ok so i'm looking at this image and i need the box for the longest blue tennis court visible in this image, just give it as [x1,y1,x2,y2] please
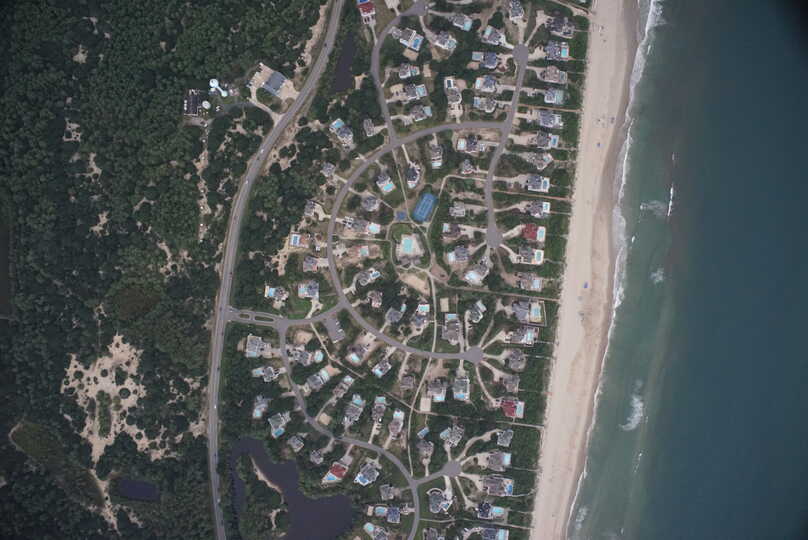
[412,191,439,223]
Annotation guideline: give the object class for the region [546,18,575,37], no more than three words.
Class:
house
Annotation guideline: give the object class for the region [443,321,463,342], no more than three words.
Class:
house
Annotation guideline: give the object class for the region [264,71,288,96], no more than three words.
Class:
building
